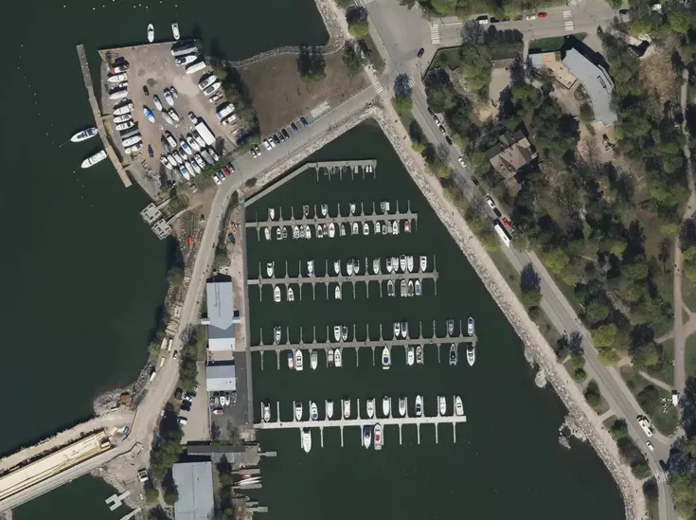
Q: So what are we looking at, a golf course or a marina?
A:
marina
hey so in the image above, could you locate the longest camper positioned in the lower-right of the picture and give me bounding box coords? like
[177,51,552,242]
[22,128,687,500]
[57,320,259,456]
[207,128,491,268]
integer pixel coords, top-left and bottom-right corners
[637,416,653,437]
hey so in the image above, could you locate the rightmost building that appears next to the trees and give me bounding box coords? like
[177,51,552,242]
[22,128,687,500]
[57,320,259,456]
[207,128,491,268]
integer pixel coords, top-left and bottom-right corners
[563,48,618,124]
